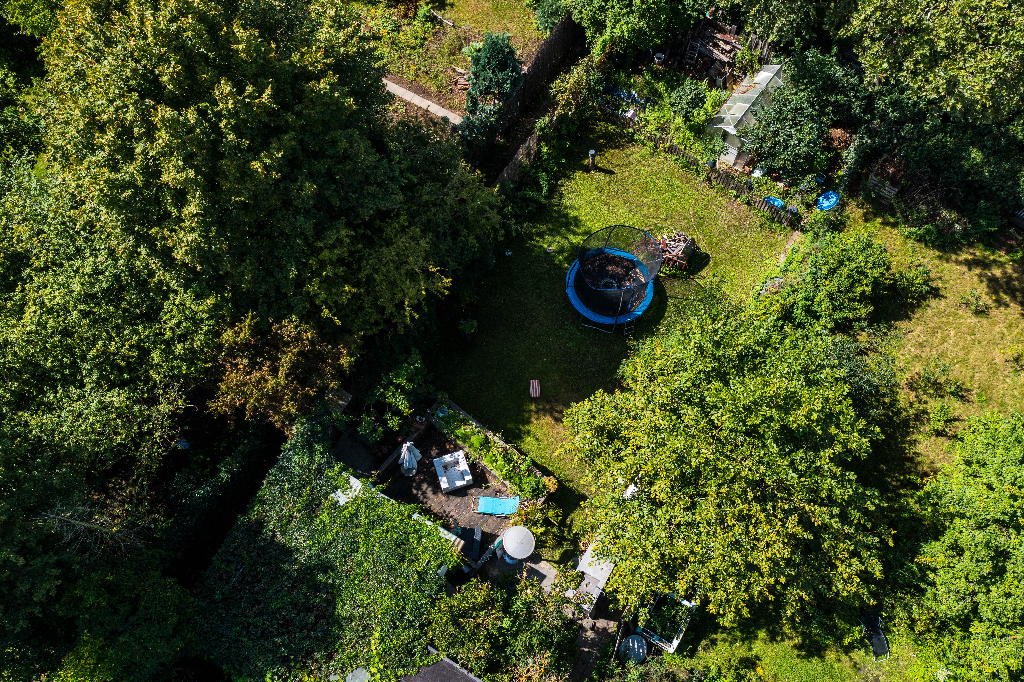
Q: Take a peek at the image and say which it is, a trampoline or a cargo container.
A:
trampoline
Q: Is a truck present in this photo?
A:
No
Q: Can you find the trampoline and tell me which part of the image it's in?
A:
center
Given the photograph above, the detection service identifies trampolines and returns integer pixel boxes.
[562,224,662,340]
